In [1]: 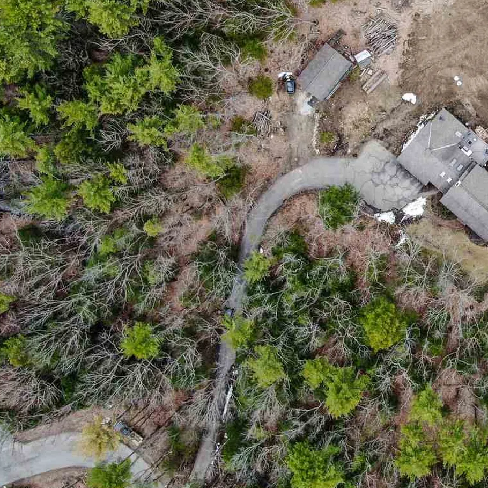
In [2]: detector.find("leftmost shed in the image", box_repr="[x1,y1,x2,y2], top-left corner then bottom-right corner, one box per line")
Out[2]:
[298,43,353,100]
